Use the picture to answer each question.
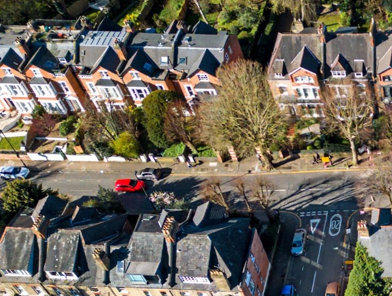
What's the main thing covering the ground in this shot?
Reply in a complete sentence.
The scene is dominated by buildings.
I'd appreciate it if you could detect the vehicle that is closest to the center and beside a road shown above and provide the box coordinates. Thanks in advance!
[132,168,168,183]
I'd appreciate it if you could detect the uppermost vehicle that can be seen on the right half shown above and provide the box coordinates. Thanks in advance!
[287,229,310,257]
